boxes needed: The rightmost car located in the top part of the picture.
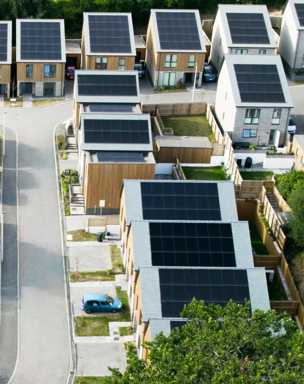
[287,112,302,131]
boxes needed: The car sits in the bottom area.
[80,292,122,313]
